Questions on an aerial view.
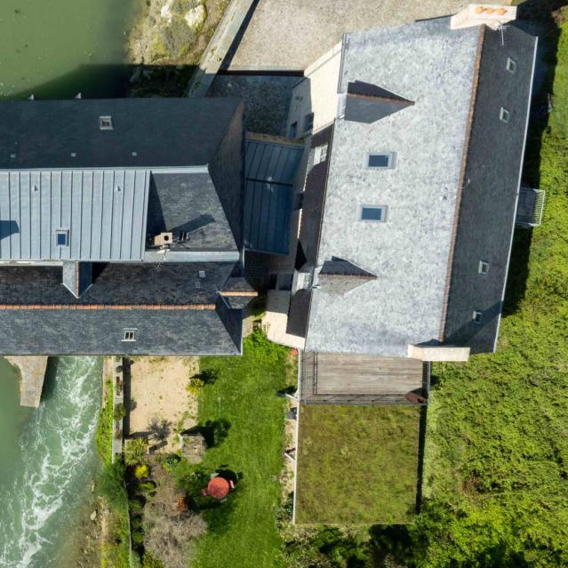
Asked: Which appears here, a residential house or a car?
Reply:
residential house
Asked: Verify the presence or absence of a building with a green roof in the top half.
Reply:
No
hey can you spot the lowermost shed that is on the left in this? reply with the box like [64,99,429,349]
[179,430,203,458]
